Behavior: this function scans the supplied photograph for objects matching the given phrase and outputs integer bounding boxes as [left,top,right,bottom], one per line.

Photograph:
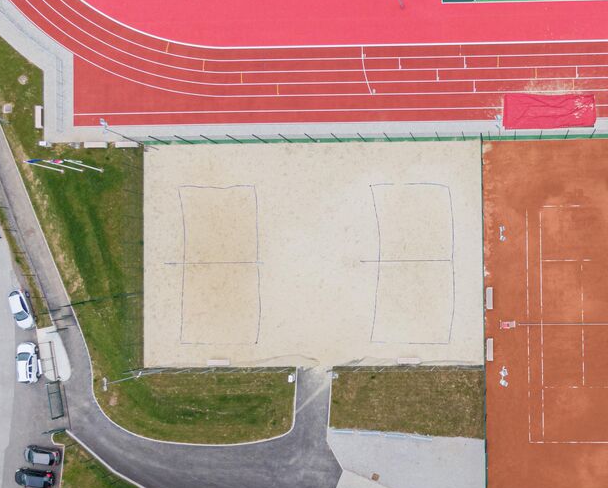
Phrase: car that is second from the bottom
[24,446,61,466]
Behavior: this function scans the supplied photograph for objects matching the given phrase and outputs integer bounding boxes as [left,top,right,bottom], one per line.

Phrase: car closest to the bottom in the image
[15,468,56,488]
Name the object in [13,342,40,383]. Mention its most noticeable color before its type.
white car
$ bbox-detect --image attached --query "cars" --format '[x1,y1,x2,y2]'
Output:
[15,468,56,488]
[24,446,61,466]
[13,342,40,383]
[6,290,36,331]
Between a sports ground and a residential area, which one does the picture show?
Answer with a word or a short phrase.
sports ground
